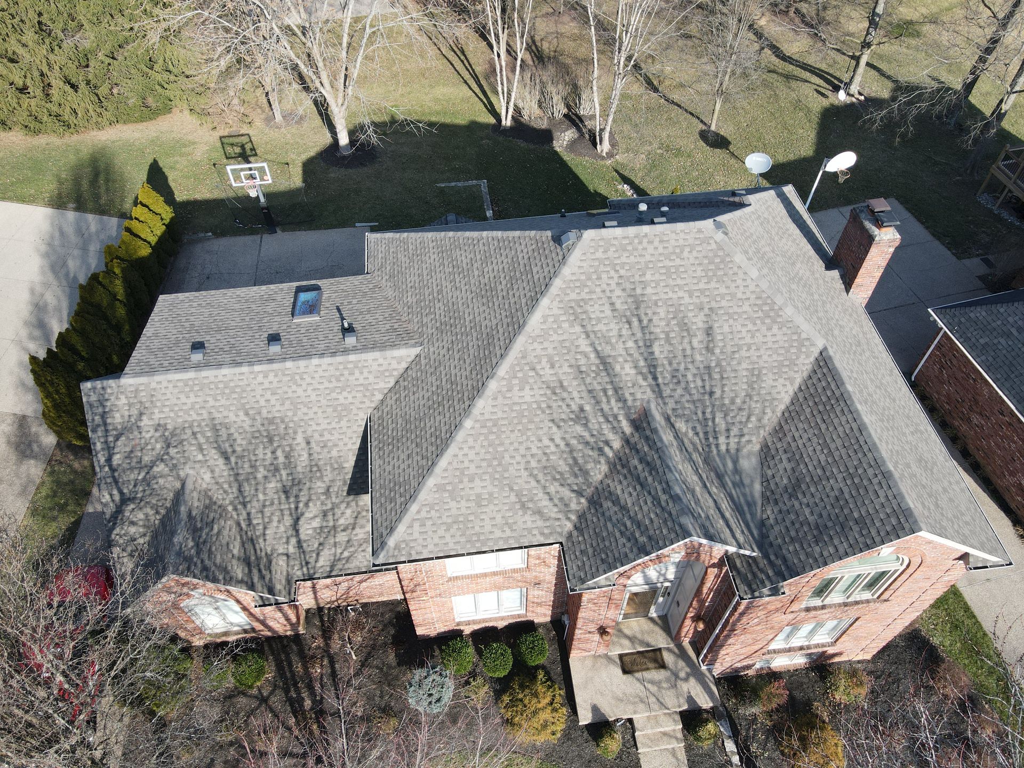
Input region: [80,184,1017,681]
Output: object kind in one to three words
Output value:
house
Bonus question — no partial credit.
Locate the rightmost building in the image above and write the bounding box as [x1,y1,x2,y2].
[909,286,1024,513]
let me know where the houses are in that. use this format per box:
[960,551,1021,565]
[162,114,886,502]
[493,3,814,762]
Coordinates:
[909,286,1024,513]
[80,184,1017,681]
